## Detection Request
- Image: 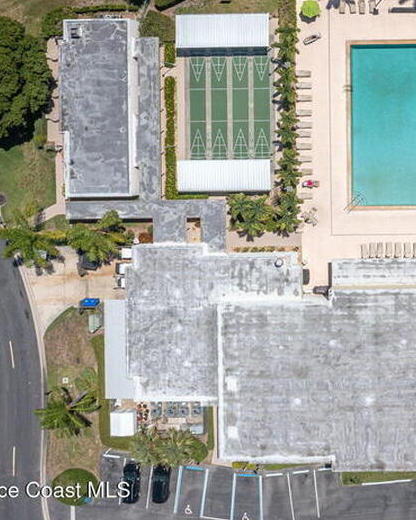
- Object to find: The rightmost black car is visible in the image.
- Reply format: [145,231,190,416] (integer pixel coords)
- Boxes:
[149,465,171,505]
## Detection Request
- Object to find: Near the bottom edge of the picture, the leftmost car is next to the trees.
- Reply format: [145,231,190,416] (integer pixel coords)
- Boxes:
[120,464,142,505]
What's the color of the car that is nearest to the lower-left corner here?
black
